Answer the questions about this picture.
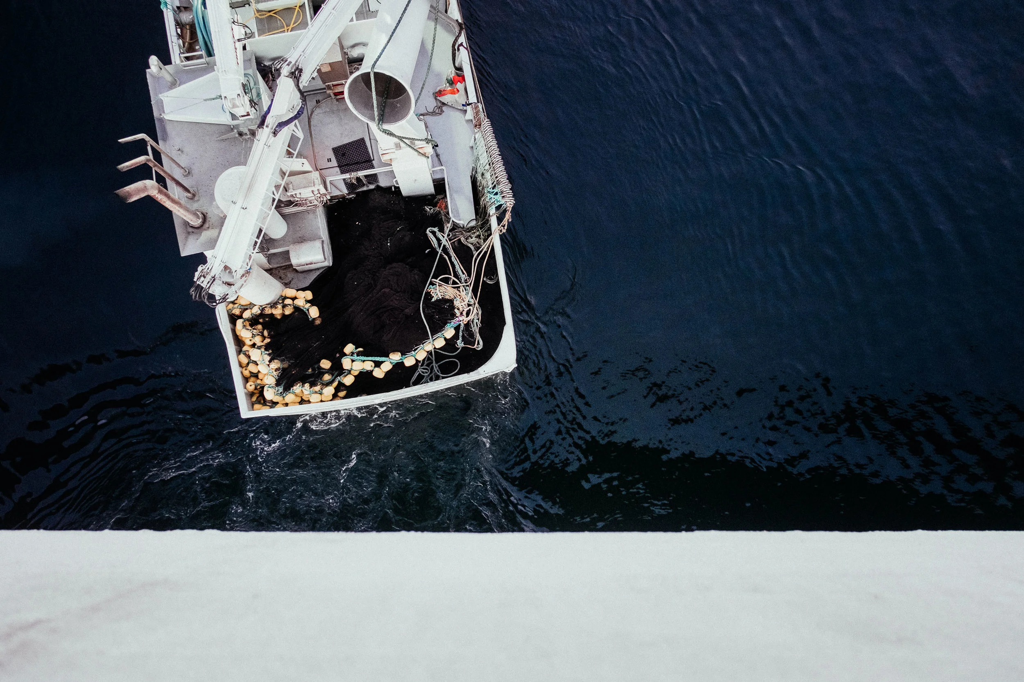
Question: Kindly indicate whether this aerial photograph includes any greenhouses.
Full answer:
No, there's no greenhouse here.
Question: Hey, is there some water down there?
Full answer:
Yes, some water is visible.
